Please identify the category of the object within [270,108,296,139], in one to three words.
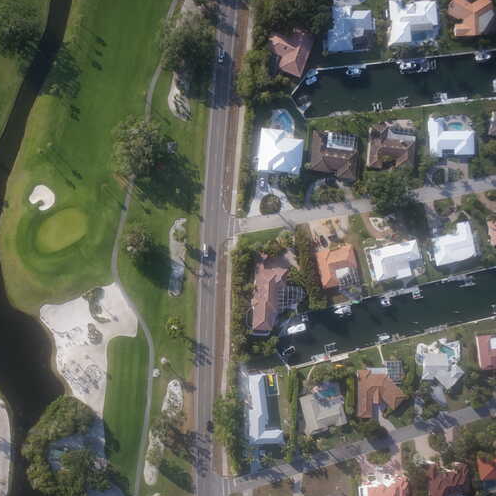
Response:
swimming pool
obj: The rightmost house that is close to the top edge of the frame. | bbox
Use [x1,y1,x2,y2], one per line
[447,0,496,36]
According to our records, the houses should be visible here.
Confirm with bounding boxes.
[356,370,409,417]
[421,352,461,390]
[299,390,351,436]
[389,1,438,44]
[433,222,478,264]
[258,129,302,173]
[328,6,371,52]
[269,28,312,78]
[365,128,417,169]
[368,475,411,496]
[474,335,496,370]
[428,461,471,496]
[252,255,292,332]
[475,457,496,482]
[249,373,285,445]
[313,242,360,289]
[428,117,475,157]
[310,131,360,179]
[447,0,496,36]
[368,241,423,281]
